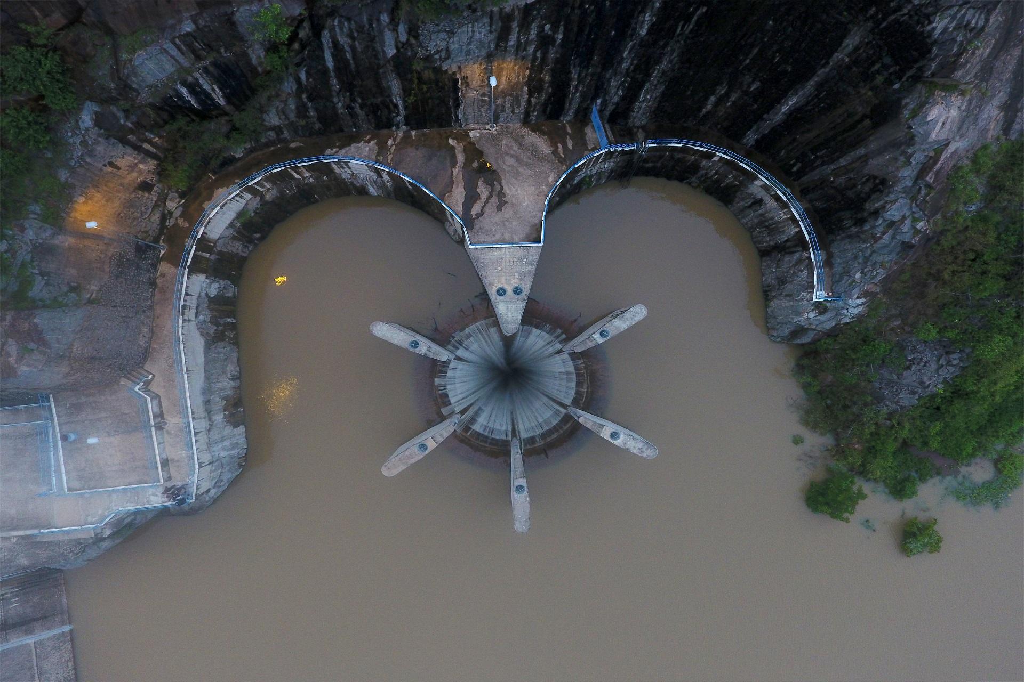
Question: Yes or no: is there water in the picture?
Yes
